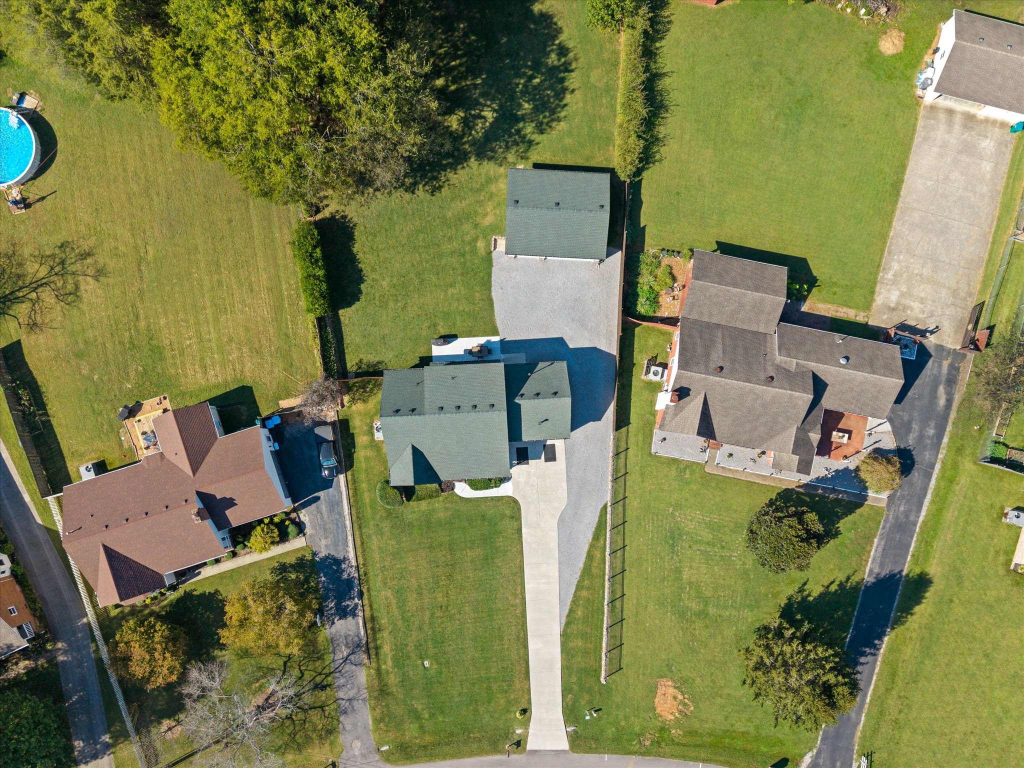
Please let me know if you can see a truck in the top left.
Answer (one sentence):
No, no truck is visible in the top left.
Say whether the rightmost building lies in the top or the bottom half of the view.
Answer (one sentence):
It is in the top half that the rightmost building appears.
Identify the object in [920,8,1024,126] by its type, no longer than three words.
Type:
building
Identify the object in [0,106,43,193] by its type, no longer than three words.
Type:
swimming pool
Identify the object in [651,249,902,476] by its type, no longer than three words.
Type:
house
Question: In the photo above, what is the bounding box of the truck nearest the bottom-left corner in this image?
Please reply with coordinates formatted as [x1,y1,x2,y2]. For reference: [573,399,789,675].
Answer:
[316,426,341,481]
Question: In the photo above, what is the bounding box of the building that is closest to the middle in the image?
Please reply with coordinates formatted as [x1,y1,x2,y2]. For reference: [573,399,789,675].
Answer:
[380,359,571,486]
